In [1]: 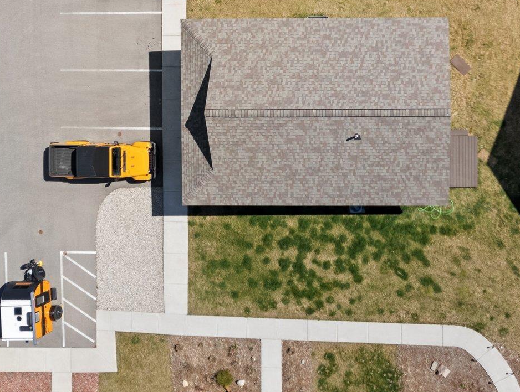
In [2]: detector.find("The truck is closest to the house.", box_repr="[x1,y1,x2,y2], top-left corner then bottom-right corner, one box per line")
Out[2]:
[48,140,157,182]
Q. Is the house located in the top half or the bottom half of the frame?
top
